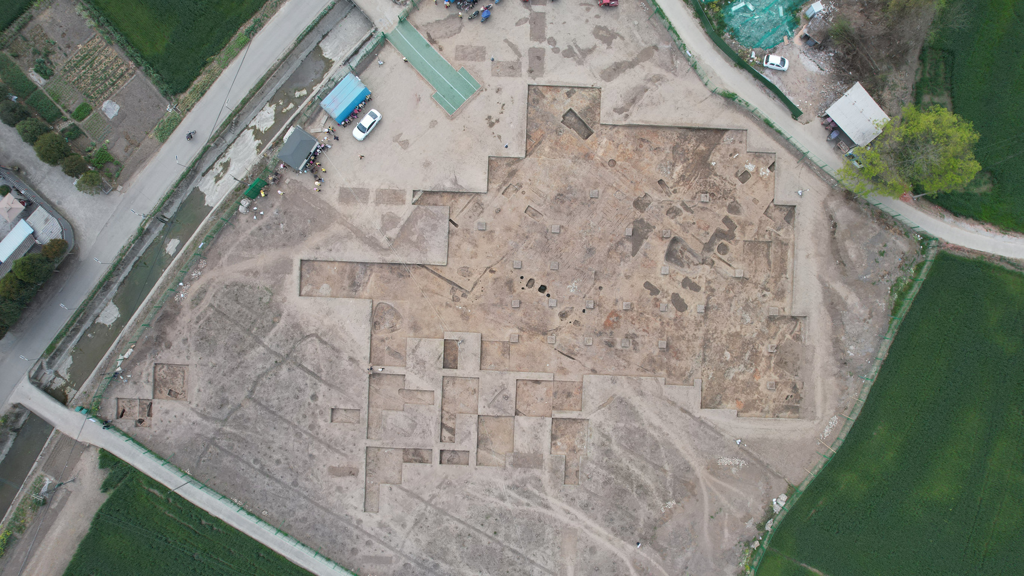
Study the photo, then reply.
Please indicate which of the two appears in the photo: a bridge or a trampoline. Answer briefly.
bridge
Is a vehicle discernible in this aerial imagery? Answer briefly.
Yes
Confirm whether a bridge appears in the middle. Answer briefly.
No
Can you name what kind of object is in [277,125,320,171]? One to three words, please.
building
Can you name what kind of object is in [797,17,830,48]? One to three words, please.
shed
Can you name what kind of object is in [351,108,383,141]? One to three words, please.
car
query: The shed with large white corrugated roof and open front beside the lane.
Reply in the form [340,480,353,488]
[818,82,888,149]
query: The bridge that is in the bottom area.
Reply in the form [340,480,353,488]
[5,371,90,443]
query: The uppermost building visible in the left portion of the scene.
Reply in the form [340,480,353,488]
[321,73,373,126]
